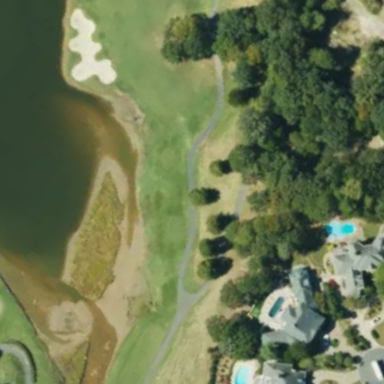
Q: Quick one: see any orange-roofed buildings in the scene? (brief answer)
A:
No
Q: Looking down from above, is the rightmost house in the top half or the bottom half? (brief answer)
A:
bottom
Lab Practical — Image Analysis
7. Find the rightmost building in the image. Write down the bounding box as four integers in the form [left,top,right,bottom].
[329,222,384,302]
